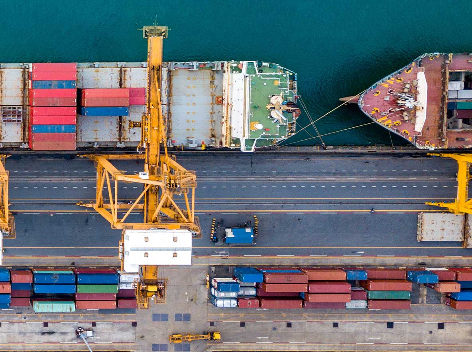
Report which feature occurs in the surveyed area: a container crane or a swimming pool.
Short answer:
container crane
